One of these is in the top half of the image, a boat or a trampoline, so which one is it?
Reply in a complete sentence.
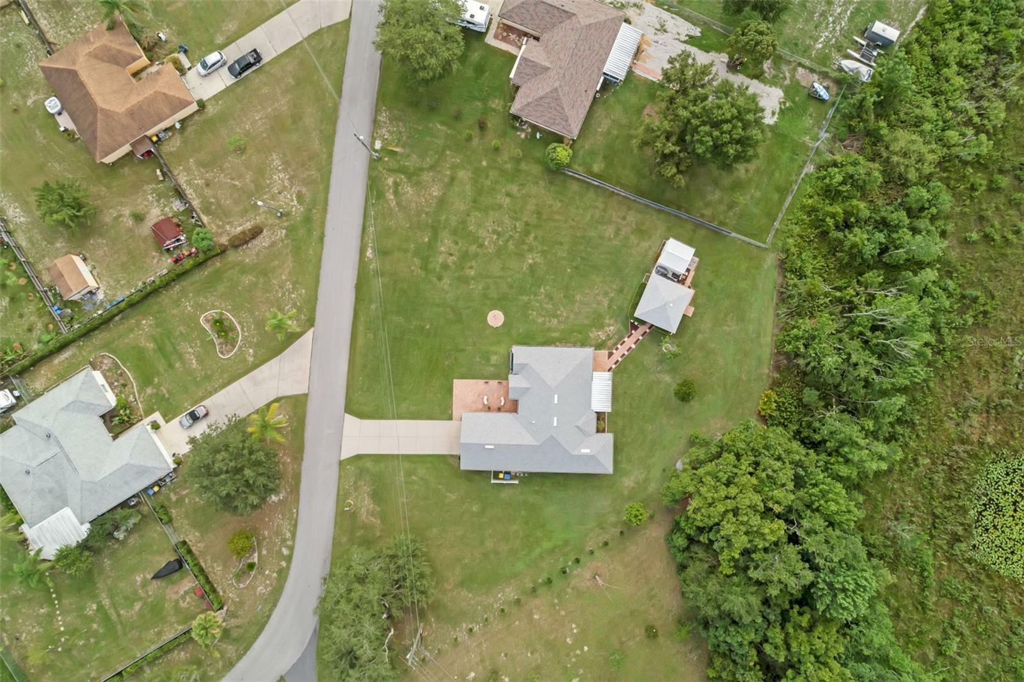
It is a boat that can be seen in the top half of the image.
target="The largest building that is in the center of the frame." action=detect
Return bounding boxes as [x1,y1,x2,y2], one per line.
[460,346,613,474]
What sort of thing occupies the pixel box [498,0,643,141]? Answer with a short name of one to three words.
house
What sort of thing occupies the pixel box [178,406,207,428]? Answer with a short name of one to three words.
car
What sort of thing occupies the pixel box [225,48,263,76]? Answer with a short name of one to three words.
vehicle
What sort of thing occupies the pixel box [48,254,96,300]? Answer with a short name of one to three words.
shed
